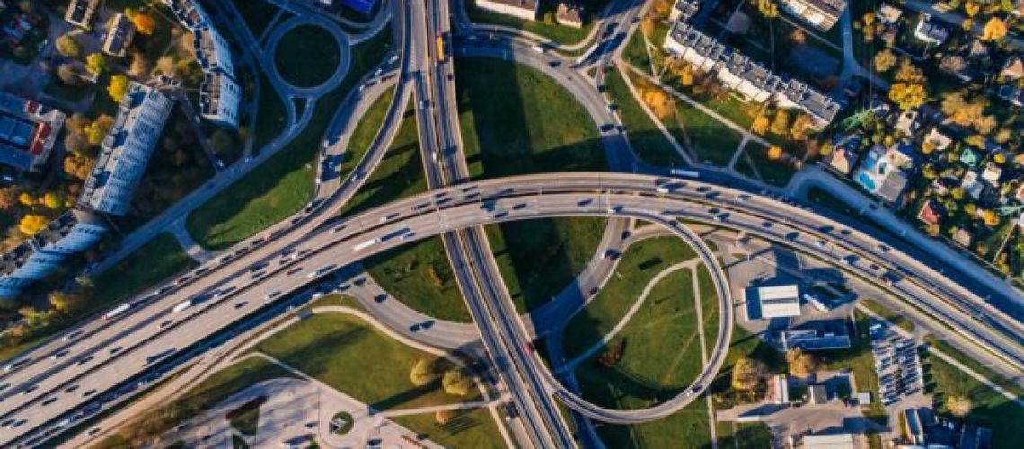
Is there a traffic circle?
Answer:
Yes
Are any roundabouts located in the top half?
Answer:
Yes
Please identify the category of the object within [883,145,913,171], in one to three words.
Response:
house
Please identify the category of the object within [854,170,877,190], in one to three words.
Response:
swimming pool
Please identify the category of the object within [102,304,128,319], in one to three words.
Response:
vehicle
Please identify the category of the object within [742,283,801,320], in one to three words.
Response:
building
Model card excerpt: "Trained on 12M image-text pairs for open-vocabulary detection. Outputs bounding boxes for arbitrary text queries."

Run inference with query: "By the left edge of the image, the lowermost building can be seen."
[0,208,107,295]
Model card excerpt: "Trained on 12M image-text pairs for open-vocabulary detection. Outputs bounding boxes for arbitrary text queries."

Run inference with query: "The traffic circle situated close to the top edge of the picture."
[263,12,351,99]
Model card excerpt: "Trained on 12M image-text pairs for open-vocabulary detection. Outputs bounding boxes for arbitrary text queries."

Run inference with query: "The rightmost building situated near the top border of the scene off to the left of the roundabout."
[171,0,240,127]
